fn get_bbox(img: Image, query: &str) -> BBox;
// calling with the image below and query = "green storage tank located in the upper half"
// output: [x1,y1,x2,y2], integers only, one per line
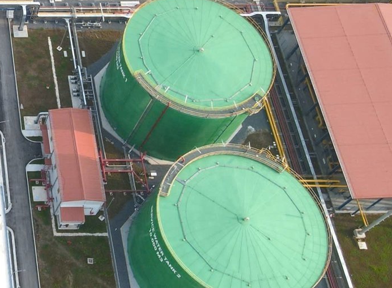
[95,0,276,166]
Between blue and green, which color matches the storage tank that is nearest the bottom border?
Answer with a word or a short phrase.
green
